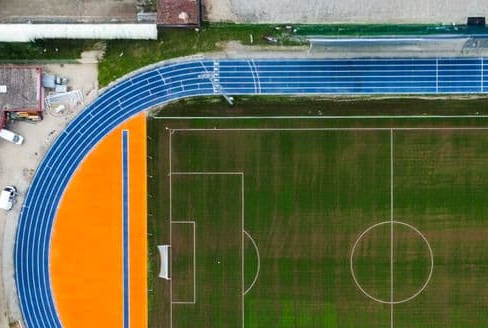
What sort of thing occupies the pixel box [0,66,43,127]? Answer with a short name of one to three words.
building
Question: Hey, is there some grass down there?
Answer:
Yes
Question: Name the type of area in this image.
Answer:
sports ground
